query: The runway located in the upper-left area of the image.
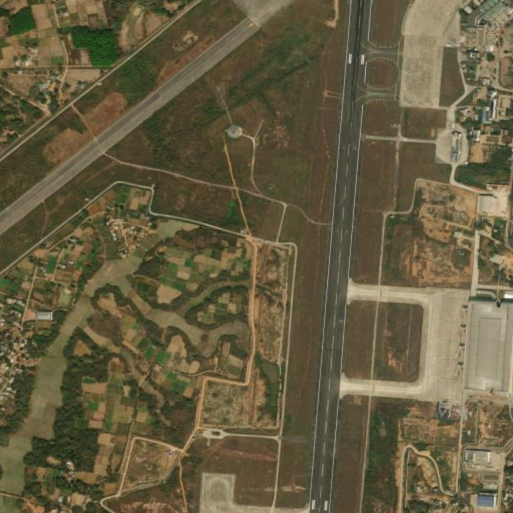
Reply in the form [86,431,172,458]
[0,18,258,234]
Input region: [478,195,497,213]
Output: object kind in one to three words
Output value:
building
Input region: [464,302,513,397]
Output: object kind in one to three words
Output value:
building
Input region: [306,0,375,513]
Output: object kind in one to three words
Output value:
runway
